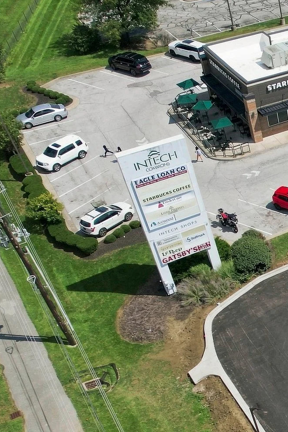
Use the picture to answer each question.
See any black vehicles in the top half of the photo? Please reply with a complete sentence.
Yes, a black vehicle appears in the top half of the photo.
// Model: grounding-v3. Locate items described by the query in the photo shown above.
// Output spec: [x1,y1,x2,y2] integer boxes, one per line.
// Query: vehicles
[270,183,288,210]
[109,52,148,75]
[169,39,207,60]
[213,207,239,231]
[14,103,68,128]
[34,135,91,172]
[73,201,134,237]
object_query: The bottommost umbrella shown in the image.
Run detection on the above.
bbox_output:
[206,112,240,141]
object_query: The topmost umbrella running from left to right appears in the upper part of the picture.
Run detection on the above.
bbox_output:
[167,76,199,91]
